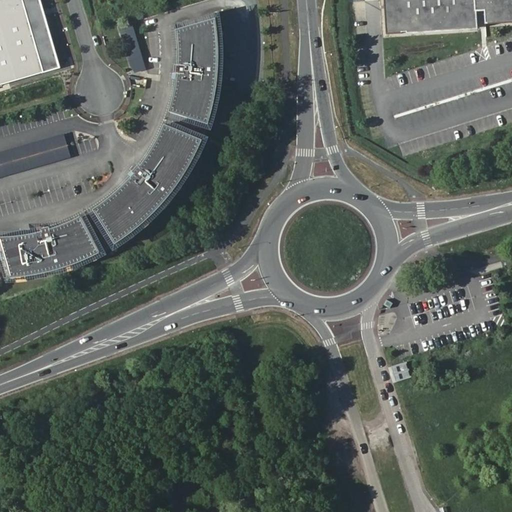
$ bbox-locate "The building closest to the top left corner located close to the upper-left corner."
[0,0,60,86]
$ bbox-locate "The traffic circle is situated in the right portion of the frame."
[256,176,400,320]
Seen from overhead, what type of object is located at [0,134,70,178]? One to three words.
shed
